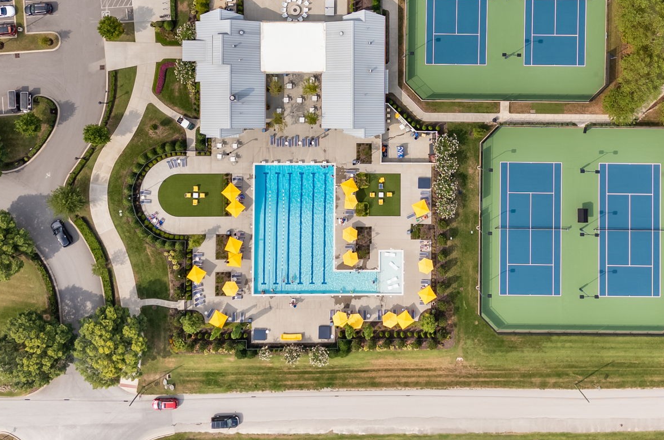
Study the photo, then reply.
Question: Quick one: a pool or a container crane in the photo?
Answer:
pool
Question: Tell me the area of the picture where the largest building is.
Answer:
top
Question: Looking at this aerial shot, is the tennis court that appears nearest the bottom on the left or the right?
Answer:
right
